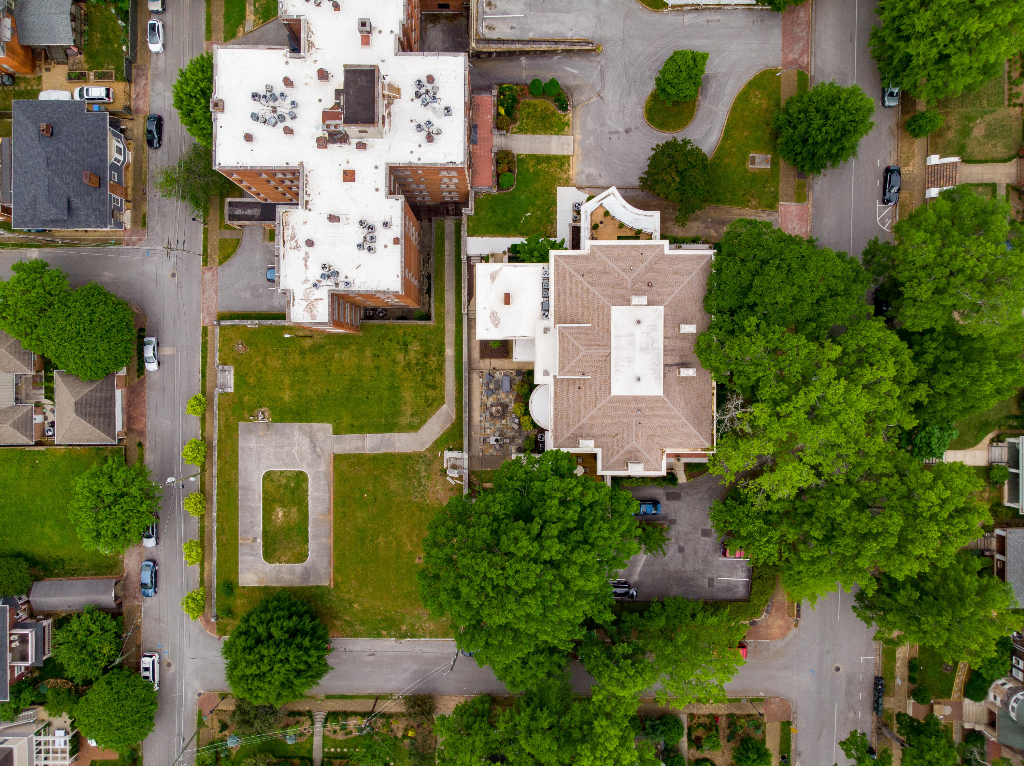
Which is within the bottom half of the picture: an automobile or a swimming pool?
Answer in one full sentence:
There is an automobile within the bottom half of the picture.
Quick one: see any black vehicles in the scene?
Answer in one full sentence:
Yes, there's a black vehicle here.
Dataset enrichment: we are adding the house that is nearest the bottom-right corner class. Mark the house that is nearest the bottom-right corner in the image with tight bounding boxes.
[959,628,1024,751]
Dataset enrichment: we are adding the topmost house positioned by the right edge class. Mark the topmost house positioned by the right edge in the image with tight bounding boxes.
[985,437,1024,514]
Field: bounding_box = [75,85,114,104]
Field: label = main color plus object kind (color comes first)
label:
white car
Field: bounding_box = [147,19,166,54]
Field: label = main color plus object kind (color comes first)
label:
white car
